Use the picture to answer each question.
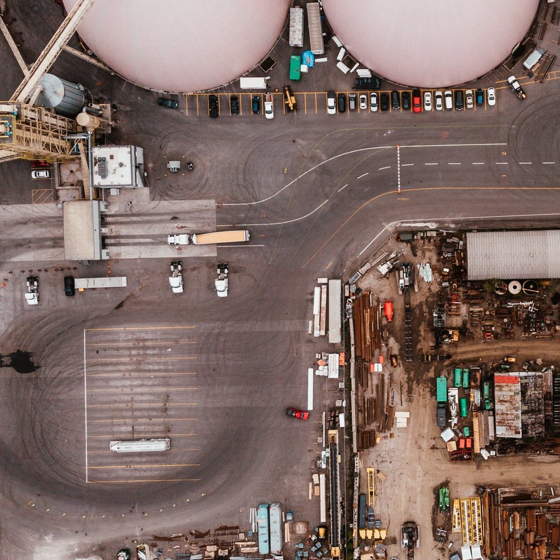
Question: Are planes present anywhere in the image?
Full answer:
No, there is no plane in the image.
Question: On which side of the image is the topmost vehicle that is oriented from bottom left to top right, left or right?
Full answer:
The topmost vehicle that is oriented from bottom left to top right sits on the right side.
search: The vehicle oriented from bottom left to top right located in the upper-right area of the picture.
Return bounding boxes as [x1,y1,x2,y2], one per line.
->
[524,44,546,71]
